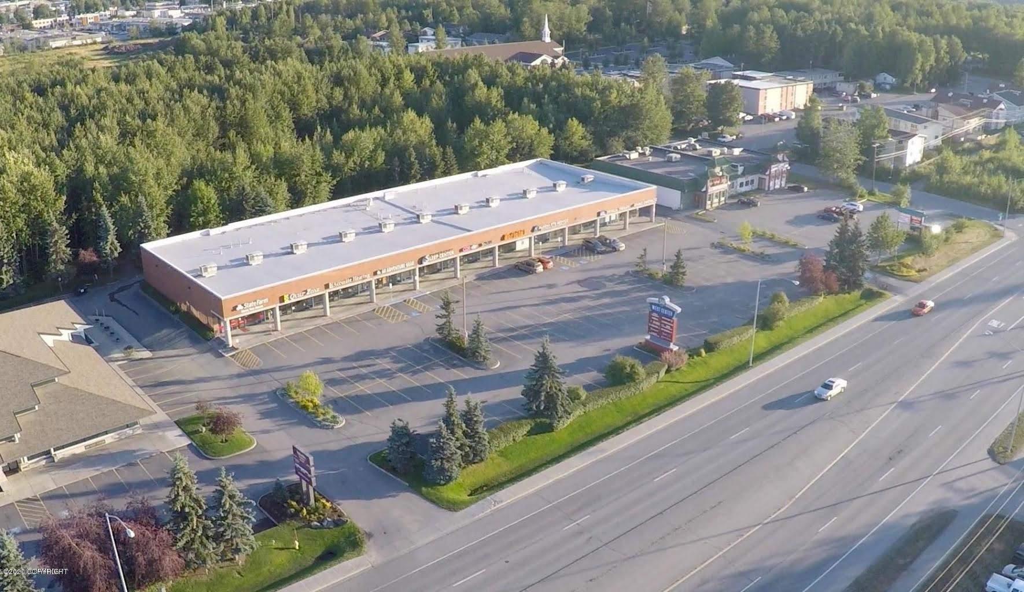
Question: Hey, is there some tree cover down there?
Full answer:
Yes, tree cover shows up in the scene.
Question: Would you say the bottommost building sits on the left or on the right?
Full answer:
You can find the bottommost building on the left side of the picture.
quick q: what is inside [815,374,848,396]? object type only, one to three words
car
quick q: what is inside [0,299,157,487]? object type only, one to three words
building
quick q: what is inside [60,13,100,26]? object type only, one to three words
building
